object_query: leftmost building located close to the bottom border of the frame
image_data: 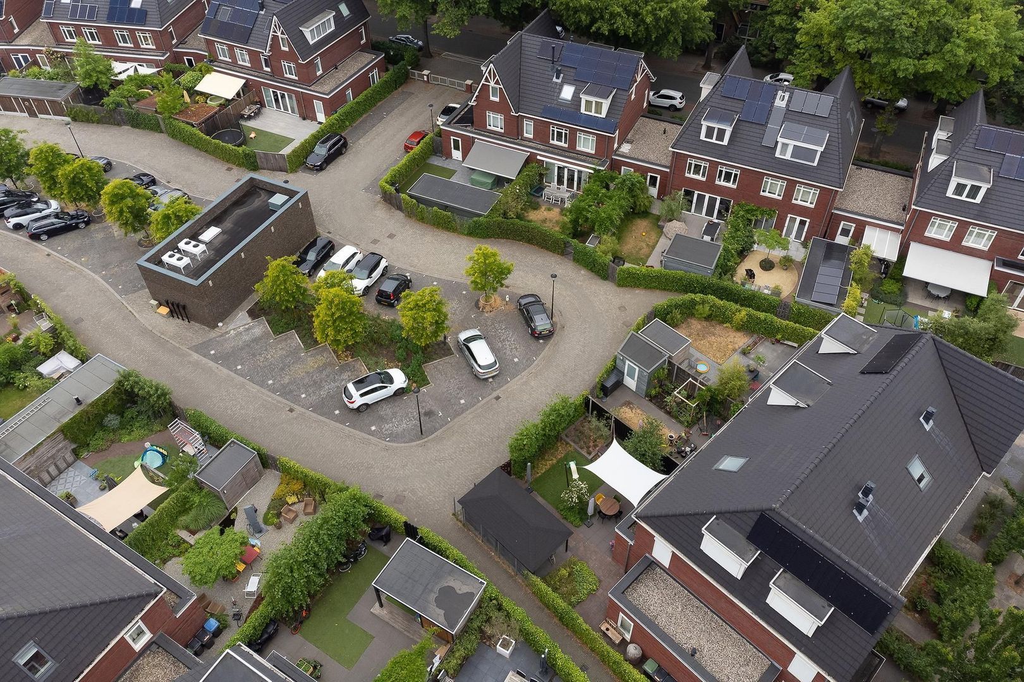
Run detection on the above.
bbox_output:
[0,470,210,682]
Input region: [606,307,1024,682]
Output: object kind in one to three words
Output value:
house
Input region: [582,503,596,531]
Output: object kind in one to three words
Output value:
umbrella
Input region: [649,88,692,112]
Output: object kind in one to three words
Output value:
car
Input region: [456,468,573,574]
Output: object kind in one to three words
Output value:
building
